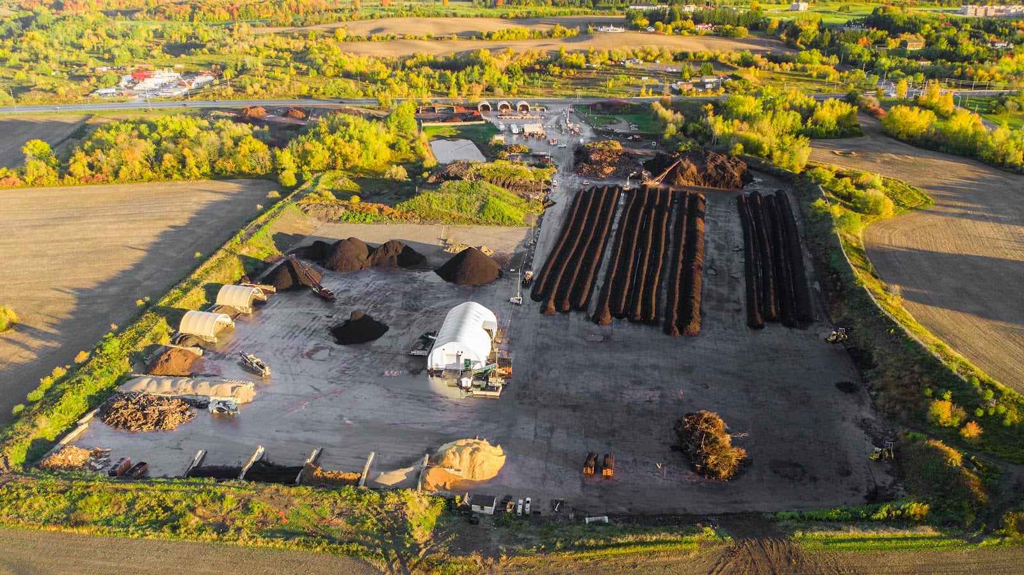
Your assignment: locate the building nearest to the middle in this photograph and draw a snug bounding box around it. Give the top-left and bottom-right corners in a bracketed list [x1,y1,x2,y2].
[427,301,506,371]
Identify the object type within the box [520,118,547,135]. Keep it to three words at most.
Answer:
building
